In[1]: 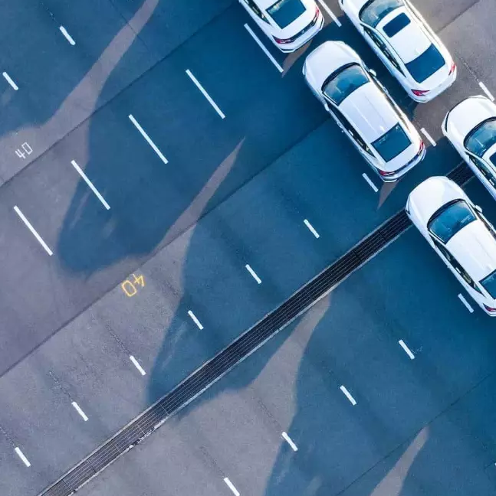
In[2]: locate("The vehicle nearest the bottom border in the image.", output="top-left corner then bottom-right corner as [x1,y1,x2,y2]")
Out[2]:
[406,177,496,314]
